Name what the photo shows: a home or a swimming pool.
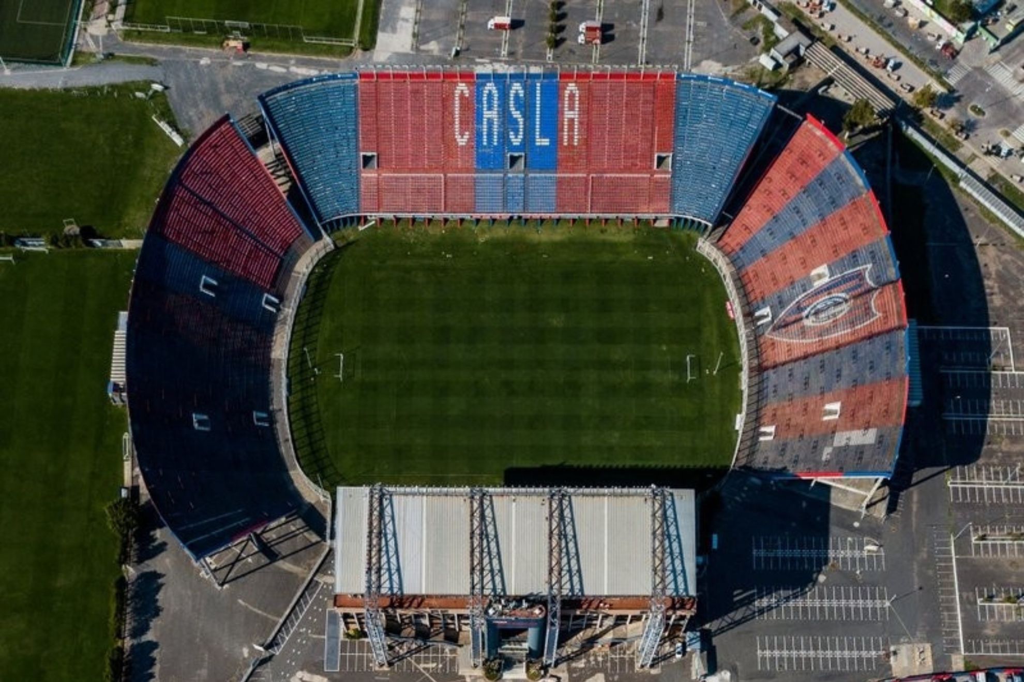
home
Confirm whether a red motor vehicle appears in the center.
No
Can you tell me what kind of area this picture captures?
sports ground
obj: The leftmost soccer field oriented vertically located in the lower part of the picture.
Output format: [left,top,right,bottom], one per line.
[0,250,145,682]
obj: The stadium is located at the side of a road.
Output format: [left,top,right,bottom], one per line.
[124,64,908,680]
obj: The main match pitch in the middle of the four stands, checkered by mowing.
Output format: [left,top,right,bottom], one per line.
[287,219,745,538]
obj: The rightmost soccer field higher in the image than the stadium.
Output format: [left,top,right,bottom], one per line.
[119,0,359,59]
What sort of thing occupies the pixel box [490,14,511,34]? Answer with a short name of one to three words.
vehicle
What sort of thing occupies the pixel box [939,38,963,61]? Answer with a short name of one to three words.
truck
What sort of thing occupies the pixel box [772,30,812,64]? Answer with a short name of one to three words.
house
